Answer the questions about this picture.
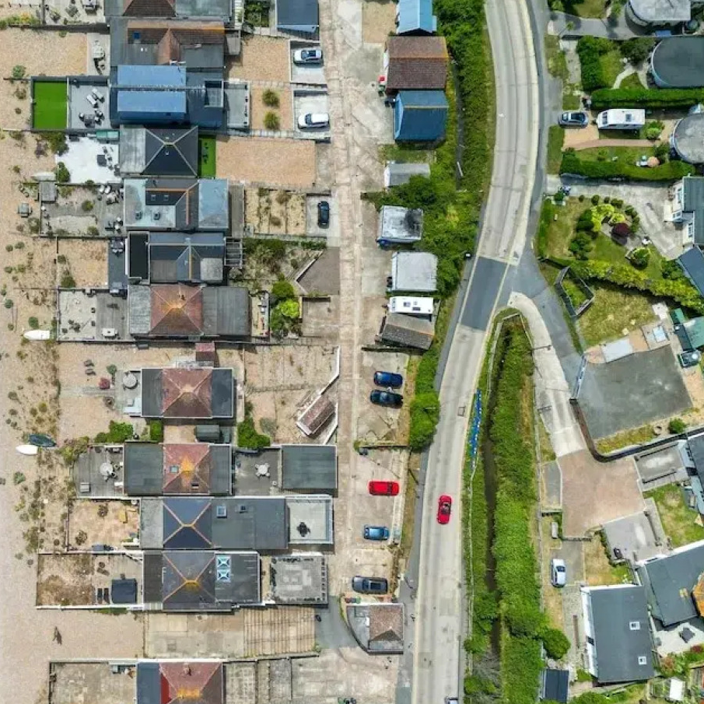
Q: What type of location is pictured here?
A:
residential area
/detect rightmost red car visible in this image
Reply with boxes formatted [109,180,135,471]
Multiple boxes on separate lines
[438,497,453,524]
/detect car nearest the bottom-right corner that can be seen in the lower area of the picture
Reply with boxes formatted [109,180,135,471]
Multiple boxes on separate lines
[553,558,569,589]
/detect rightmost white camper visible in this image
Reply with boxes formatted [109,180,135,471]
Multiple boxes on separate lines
[600,106,650,128]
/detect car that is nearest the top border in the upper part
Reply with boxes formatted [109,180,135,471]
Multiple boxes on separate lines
[295,46,322,61]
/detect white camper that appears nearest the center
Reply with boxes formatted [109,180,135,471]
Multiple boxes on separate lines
[383,297,436,313]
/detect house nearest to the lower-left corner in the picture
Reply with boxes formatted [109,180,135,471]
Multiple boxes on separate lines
[137,660,224,704]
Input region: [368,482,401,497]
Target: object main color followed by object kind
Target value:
red car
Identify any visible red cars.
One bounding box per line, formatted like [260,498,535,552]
[438,497,453,524]
[368,482,401,497]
